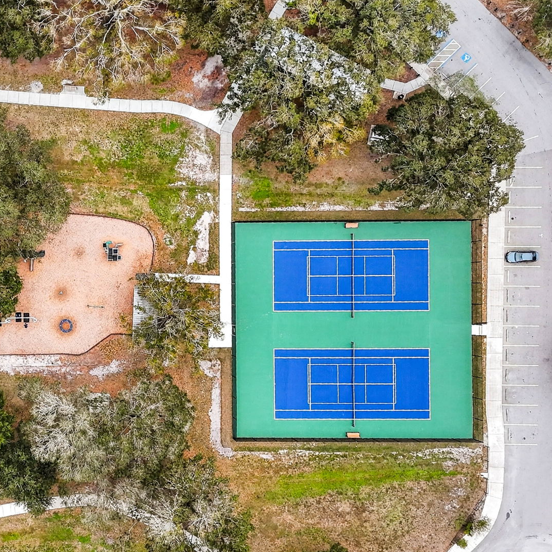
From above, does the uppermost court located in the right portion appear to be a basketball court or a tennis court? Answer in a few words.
tennis court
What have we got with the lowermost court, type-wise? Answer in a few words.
tennis court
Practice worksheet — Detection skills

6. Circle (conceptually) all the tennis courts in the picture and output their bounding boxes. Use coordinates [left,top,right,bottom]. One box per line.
[236,330,474,439]
[235,221,473,330]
